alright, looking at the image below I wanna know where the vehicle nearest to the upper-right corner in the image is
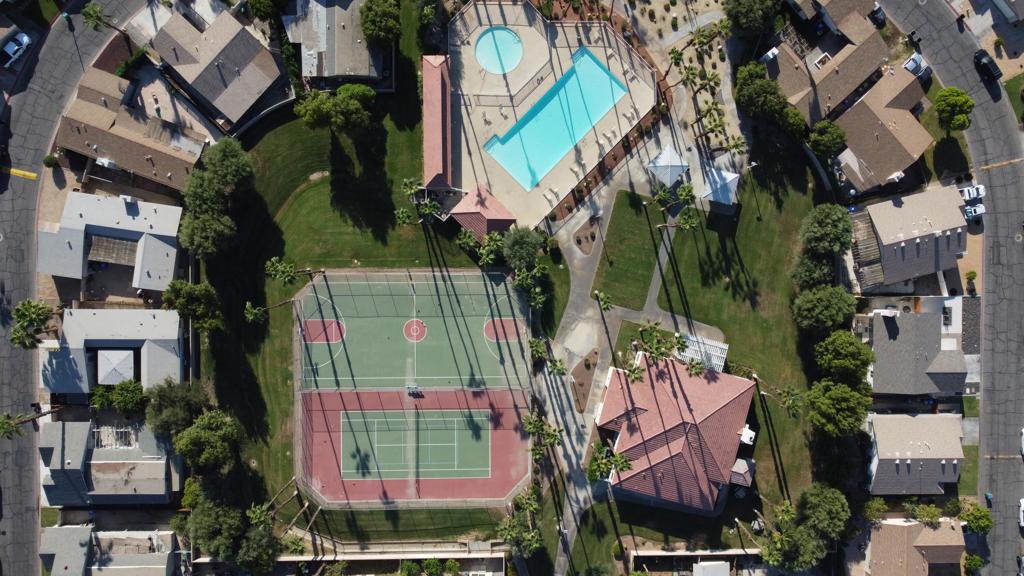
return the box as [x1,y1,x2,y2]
[974,49,1004,82]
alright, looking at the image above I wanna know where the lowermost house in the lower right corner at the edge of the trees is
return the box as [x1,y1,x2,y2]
[864,517,965,576]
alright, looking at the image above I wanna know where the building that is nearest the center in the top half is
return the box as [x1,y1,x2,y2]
[450,184,517,249]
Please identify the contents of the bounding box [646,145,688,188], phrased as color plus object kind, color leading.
white gazebo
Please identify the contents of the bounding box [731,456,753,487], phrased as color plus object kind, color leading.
gray gazebo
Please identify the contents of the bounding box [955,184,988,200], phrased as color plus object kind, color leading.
white car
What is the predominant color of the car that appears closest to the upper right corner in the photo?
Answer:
black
